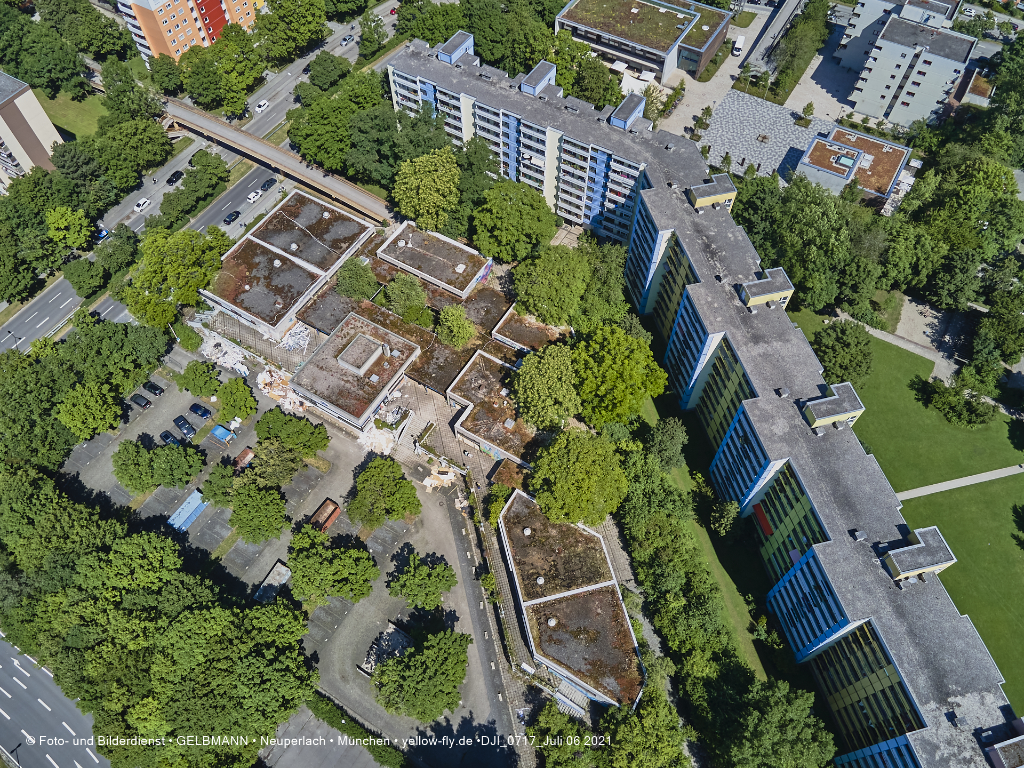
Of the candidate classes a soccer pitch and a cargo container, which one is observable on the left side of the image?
cargo container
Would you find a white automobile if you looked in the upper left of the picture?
Yes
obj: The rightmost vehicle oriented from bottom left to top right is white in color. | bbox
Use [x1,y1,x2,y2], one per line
[730,35,746,54]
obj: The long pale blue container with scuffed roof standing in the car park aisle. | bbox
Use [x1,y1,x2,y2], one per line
[168,490,215,536]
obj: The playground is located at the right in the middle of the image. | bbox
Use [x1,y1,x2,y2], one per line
[896,295,982,352]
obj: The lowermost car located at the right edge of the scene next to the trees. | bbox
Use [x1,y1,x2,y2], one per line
[972,52,990,64]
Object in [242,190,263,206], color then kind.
white car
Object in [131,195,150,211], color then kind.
white car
